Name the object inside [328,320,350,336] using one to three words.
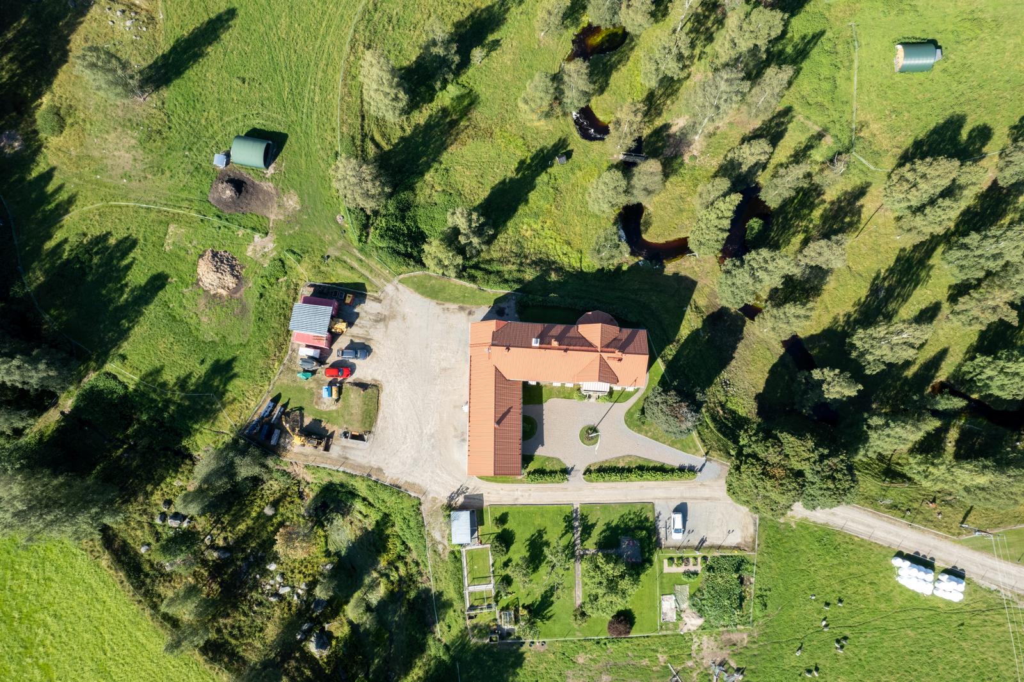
work vehicle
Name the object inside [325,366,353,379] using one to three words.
vehicle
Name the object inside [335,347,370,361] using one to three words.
car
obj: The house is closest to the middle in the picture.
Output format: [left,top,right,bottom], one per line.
[462,308,649,477]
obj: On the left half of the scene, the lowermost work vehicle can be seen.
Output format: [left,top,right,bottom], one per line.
[287,415,337,453]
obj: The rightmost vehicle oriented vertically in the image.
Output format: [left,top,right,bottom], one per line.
[670,510,685,541]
